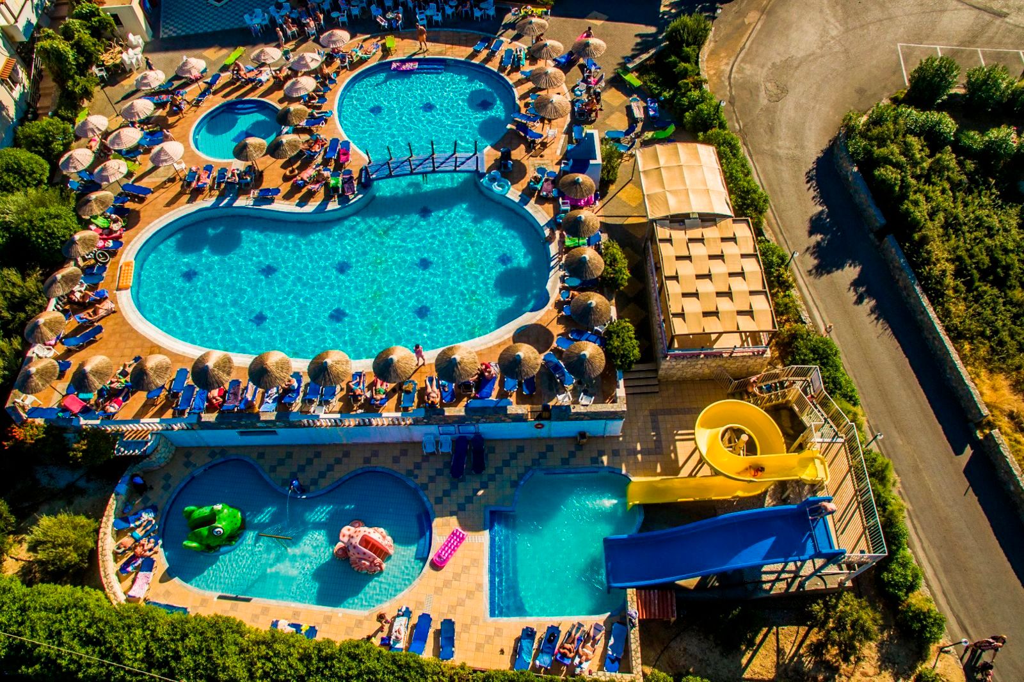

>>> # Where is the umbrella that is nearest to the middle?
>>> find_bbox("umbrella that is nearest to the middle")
[501,345,539,385]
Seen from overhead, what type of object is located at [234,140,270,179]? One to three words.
umbrella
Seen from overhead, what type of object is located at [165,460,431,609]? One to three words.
swimming pool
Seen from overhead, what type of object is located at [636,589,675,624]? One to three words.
shed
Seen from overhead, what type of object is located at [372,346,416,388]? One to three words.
umbrella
